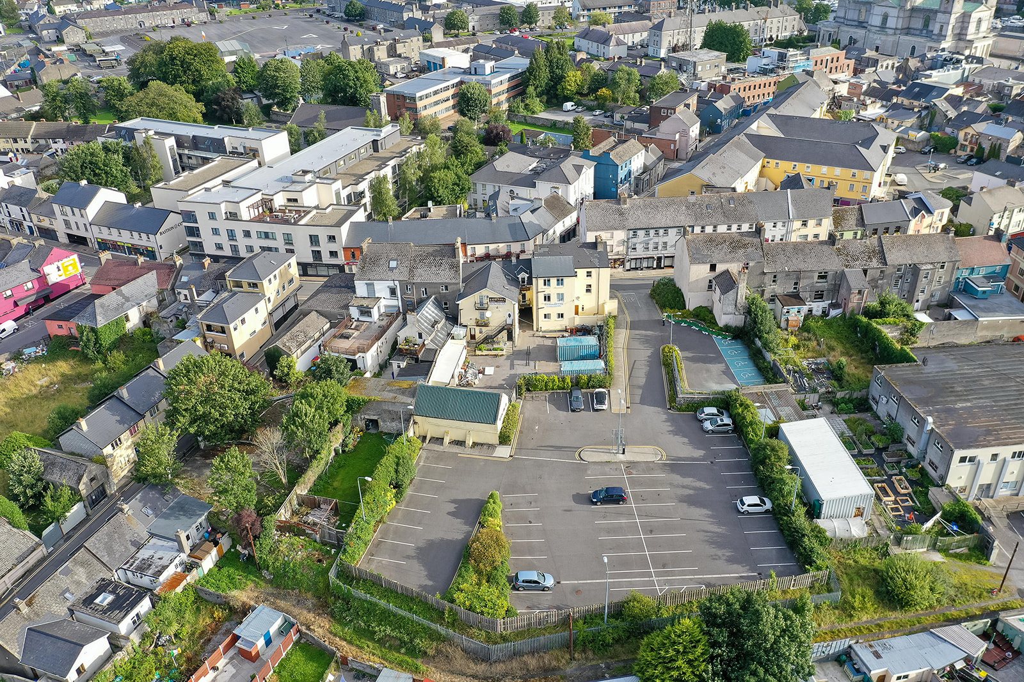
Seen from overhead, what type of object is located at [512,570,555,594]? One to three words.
car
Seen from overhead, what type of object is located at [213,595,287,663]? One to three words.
shed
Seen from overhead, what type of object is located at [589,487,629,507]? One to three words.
car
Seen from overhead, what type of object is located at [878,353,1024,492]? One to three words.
building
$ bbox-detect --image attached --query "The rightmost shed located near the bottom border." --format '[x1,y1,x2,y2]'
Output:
[985,601,1024,667]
